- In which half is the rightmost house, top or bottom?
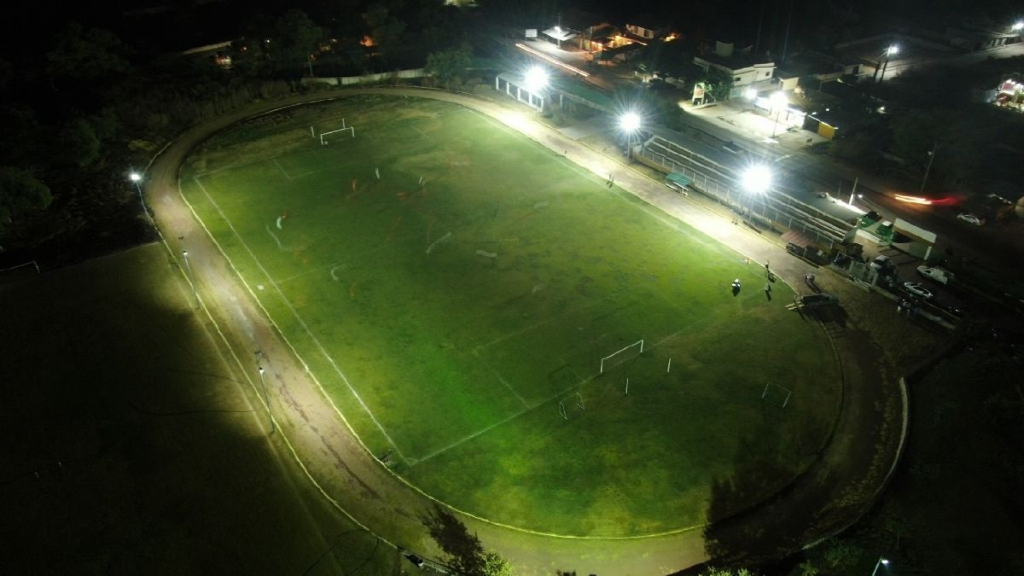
top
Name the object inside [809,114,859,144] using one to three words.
shed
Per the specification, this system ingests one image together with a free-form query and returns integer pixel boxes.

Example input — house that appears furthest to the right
[974,11,1024,47]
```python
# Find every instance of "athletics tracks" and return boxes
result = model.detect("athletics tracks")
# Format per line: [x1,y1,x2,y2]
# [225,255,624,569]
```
[143,86,904,576]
